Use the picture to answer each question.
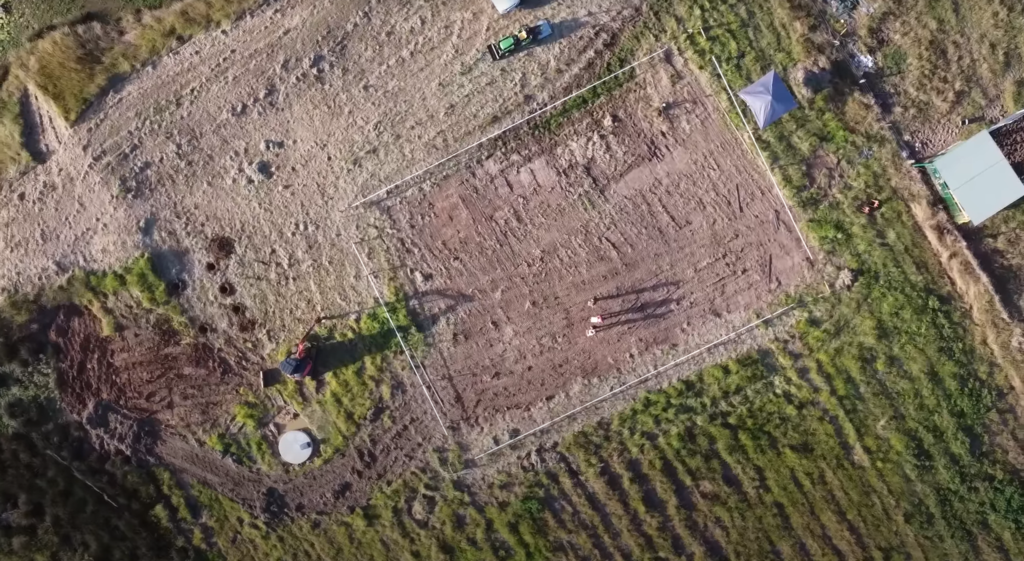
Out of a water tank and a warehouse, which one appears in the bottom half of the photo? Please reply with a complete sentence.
The one visible in the bottom half of the photo is a water tank.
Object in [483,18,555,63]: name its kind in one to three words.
work vehicle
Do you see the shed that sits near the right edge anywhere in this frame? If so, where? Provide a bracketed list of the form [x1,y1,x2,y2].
[913,128,1024,227]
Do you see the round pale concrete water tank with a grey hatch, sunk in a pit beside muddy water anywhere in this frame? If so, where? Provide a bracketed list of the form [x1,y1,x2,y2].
[278,427,315,464]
